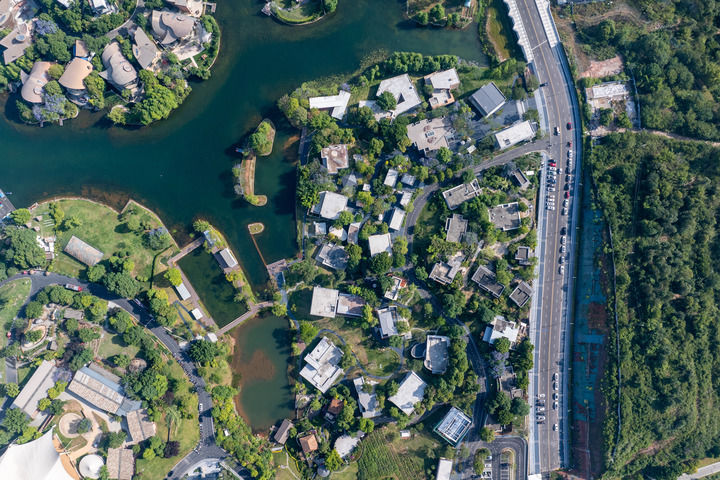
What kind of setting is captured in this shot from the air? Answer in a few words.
residential area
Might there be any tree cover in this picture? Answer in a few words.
Yes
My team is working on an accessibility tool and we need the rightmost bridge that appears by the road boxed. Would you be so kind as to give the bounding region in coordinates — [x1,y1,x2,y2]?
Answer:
[506,0,563,61]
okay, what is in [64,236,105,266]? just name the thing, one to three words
building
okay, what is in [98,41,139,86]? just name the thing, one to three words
house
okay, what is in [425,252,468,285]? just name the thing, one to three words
house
